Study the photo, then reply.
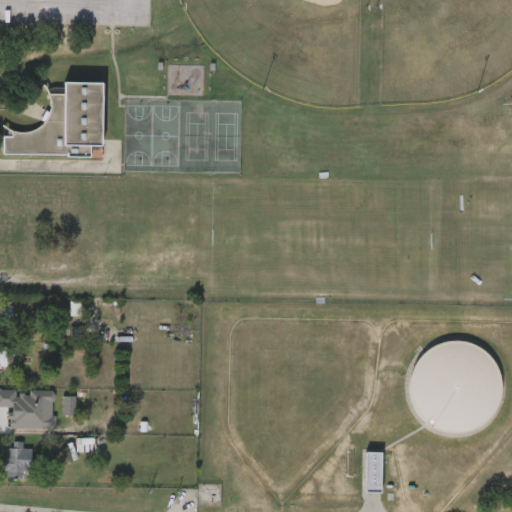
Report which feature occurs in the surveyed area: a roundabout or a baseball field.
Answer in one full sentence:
It is a baseball field that can be seen here.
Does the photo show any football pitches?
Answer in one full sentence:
Yes, there's a football pitch down there.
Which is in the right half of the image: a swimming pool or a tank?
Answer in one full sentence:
The feature located in the right half of the image is a tank.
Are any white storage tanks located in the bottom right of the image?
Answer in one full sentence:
Yes, there is a white storage tank in the bottom right of the image.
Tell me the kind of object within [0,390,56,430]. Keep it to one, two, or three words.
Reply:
house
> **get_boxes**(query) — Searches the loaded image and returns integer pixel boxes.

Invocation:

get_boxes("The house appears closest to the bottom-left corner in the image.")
[6,442,33,480]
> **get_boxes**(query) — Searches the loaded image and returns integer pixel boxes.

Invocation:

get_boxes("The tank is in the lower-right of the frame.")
[405,338,504,438]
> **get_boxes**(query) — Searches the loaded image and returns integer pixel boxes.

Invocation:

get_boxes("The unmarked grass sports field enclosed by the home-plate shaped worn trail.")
[230,320,379,498]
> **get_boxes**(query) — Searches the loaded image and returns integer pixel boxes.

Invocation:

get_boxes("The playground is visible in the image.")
[168,65,204,96]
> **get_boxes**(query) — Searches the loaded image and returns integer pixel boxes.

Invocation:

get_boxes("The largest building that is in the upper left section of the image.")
[4,82,104,157]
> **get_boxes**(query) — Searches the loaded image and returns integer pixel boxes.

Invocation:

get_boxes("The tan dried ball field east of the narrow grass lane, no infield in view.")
[382,0,512,106]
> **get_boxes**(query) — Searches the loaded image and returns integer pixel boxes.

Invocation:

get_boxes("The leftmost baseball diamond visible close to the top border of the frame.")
[180,0,360,108]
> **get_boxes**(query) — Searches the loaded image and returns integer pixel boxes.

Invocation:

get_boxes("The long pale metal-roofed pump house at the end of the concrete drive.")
[366,452,384,493]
